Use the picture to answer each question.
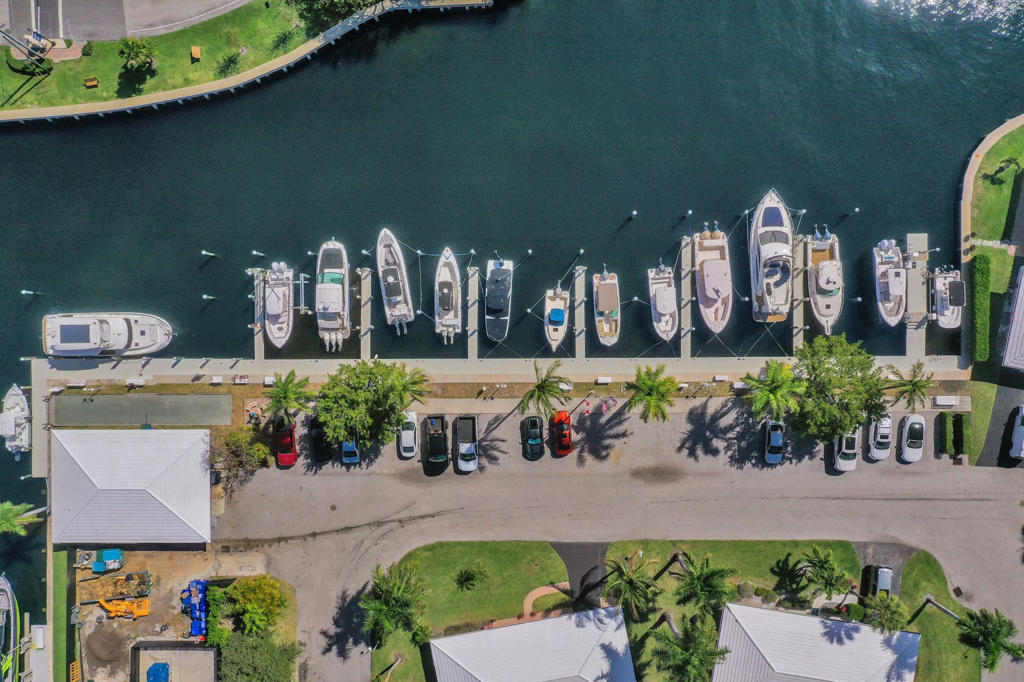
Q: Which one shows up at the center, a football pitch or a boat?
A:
boat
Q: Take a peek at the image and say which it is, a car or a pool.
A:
car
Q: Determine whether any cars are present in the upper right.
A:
No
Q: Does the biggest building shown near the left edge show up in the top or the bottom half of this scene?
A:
bottom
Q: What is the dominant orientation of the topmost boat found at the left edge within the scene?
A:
from side to side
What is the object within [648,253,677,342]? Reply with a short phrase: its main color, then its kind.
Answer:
white boat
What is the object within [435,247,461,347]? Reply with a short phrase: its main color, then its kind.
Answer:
white boat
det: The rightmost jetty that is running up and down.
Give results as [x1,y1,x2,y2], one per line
[905,234,928,358]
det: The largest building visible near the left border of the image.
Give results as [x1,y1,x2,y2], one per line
[50,428,213,545]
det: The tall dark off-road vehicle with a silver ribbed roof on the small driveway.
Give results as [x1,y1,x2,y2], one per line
[866,556,893,598]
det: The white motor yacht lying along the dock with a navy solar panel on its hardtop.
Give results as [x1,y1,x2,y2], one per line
[45,314,179,357]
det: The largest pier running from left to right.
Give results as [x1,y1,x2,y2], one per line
[47,358,971,380]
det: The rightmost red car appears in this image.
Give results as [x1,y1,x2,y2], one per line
[551,409,574,456]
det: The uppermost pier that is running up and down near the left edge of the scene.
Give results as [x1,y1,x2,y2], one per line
[31,359,48,476]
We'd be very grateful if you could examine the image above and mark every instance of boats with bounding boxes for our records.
[804,222,844,338]
[544,276,569,352]
[45,314,179,357]
[265,258,294,348]
[870,236,906,327]
[648,253,677,342]
[316,235,351,351]
[694,216,732,335]
[931,260,966,329]
[593,261,621,347]
[378,229,412,338]
[0,385,31,466]
[435,247,461,347]
[0,574,21,682]
[485,250,512,341]
[747,188,794,323]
